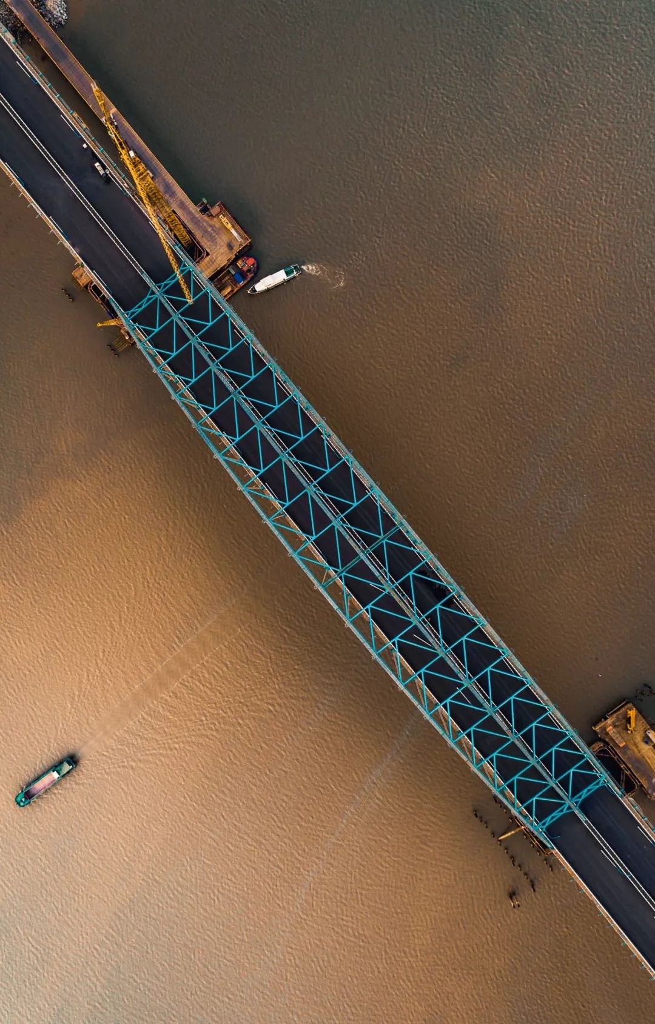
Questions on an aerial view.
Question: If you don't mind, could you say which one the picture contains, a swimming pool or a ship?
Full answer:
Of the two, only a ship appears.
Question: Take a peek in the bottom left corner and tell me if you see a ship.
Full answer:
Yes, the scene does show a ship in the bottom left corner.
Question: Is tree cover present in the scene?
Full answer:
No, tree cover can't be seen anywhere here.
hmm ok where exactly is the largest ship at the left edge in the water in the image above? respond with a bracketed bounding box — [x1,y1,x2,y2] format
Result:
[15,753,81,807]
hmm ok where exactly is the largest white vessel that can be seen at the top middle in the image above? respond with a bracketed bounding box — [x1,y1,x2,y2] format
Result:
[248,262,304,294]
